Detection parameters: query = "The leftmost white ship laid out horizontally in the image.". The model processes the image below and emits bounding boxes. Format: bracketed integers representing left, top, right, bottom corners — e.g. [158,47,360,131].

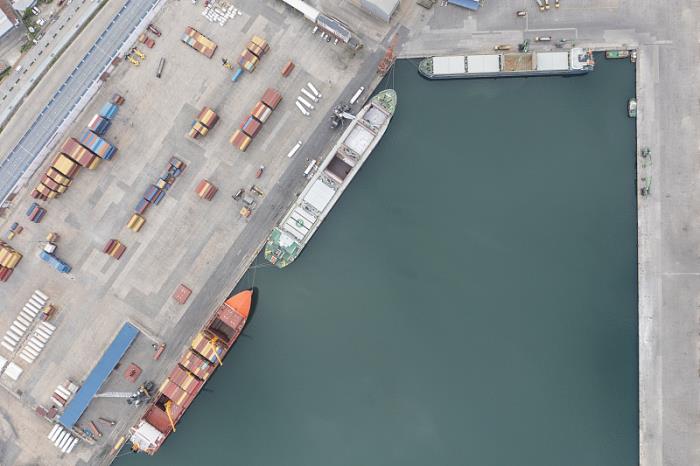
[418,49,595,79]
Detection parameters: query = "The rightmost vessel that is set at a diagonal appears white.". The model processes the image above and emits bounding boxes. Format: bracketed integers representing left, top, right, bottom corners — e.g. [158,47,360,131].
[264,89,398,270]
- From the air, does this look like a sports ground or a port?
port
